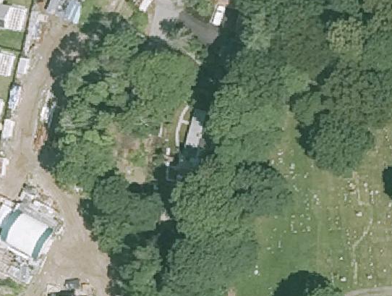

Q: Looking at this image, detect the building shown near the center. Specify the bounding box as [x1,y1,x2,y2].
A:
[184,107,208,148]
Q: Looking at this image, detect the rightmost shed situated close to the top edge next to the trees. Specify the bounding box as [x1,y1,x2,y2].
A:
[46,0,85,24]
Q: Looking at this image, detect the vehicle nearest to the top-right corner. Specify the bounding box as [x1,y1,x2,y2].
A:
[210,5,226,27]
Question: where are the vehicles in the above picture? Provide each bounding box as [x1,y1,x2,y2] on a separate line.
[210,5,226,27]
[136,0,151,11]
